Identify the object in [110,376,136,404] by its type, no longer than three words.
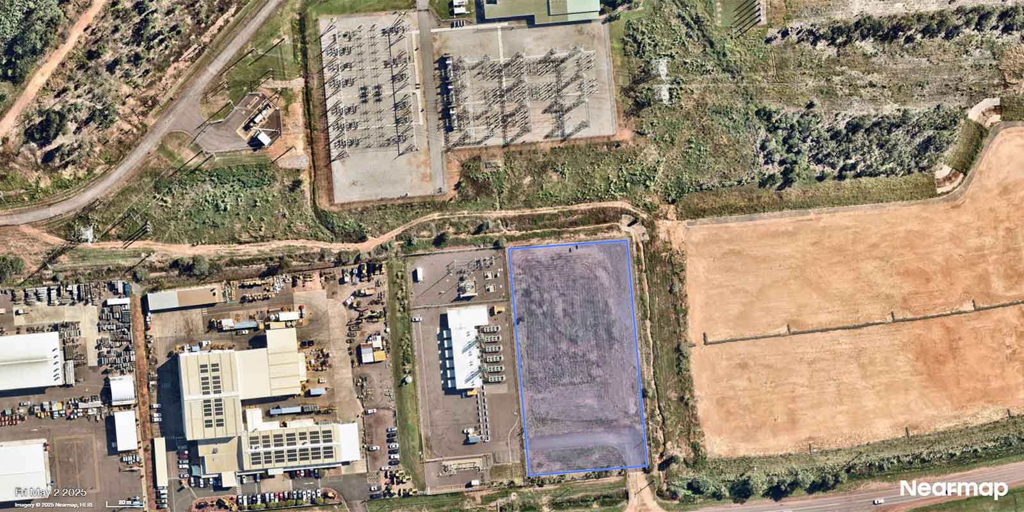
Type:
shed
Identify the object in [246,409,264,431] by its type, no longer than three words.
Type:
shed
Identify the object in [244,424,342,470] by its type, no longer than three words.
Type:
building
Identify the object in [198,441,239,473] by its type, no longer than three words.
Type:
building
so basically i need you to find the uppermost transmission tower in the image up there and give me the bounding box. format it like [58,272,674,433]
[656,54,671,81]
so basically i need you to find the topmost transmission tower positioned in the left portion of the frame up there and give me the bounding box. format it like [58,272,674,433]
[79,225,95,243]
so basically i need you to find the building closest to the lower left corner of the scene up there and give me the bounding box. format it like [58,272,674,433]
[0,438,54,501]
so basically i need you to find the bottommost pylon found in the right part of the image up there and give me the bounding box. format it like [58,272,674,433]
[658,81,673,106]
